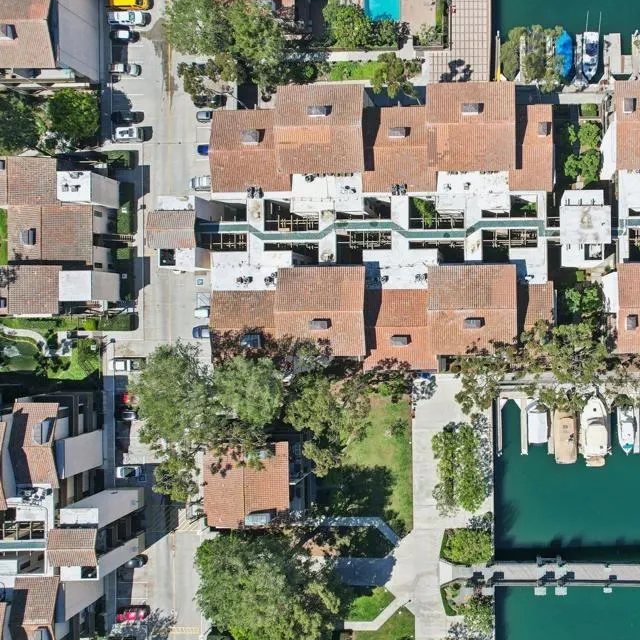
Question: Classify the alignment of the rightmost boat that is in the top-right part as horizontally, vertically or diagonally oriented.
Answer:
vertically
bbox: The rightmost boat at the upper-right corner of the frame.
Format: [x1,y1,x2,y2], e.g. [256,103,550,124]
[581,21,601,80]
